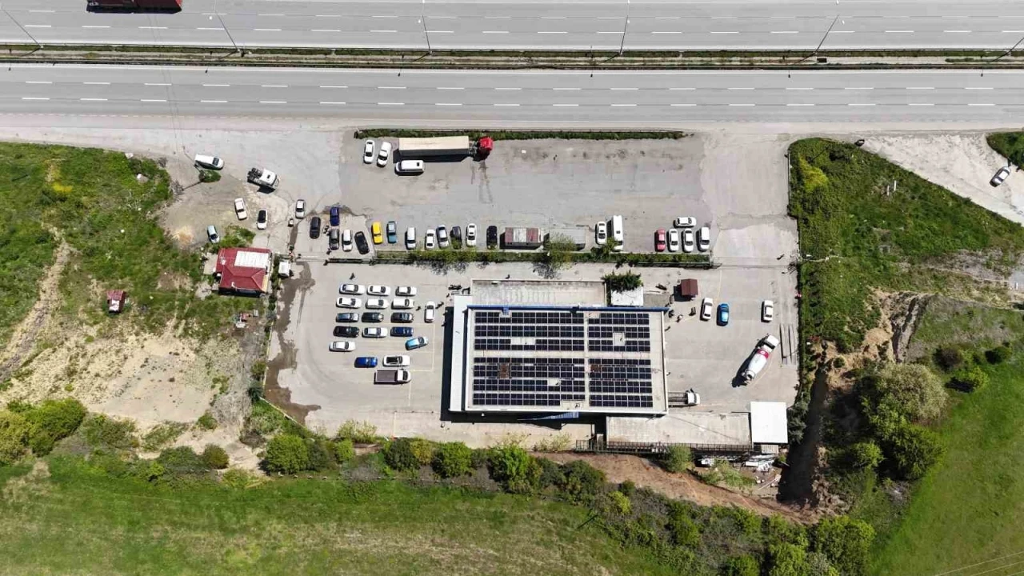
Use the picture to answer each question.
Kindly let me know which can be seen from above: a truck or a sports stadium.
truck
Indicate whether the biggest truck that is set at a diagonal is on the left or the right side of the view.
right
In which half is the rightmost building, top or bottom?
bottom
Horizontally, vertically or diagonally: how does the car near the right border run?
diagonally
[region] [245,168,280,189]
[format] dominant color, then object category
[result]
white truck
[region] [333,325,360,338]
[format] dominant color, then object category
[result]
black vehicle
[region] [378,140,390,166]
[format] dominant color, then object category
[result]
white vehicle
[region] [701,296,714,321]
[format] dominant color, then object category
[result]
white vehicle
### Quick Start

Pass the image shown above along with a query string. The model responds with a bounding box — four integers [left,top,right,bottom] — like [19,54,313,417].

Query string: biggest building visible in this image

[451,280,668,420]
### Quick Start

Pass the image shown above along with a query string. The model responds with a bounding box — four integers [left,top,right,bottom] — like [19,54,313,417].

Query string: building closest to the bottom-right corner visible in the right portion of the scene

[746,402,788,456]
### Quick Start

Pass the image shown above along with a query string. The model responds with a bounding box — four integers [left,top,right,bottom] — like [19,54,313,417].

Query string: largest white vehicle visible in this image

[398,132,490,154]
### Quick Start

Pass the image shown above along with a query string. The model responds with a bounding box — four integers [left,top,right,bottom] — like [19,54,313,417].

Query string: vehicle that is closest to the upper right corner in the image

[989,165,1010,187]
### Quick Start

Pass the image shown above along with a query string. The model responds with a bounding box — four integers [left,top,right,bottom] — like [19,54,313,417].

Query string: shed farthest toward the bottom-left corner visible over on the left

[108,290,127,312]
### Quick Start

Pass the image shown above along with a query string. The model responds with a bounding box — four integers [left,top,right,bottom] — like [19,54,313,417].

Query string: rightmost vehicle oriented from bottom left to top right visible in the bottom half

[743,332,782,380]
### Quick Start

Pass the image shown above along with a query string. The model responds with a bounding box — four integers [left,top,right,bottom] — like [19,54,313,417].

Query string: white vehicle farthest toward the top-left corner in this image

[193,152,224,171]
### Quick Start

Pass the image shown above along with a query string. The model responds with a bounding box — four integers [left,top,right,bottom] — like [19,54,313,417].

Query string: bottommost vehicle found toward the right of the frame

[668,391,700,405]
